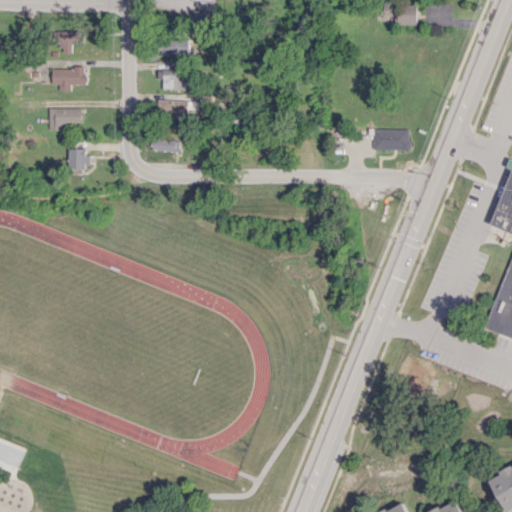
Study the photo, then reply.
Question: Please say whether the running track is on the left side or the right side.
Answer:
left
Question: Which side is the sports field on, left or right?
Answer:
left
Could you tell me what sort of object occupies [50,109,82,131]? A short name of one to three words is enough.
house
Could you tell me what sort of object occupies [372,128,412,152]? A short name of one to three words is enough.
house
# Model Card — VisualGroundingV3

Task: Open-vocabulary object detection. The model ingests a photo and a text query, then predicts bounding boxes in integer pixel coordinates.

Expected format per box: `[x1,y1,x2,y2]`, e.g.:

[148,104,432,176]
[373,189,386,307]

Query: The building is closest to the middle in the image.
[152,138,182,153]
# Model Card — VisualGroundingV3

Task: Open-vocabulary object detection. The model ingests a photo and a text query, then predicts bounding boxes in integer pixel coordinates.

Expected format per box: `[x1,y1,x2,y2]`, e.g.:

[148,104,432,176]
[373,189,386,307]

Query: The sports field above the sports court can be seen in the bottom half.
[0,227,254,438]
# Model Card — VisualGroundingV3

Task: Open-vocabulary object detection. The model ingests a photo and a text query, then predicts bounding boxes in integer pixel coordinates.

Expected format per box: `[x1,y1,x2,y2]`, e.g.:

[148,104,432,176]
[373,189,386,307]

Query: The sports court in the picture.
[0,438,27,478]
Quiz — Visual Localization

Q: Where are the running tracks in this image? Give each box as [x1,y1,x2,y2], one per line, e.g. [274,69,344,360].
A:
[0,210,271,480]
